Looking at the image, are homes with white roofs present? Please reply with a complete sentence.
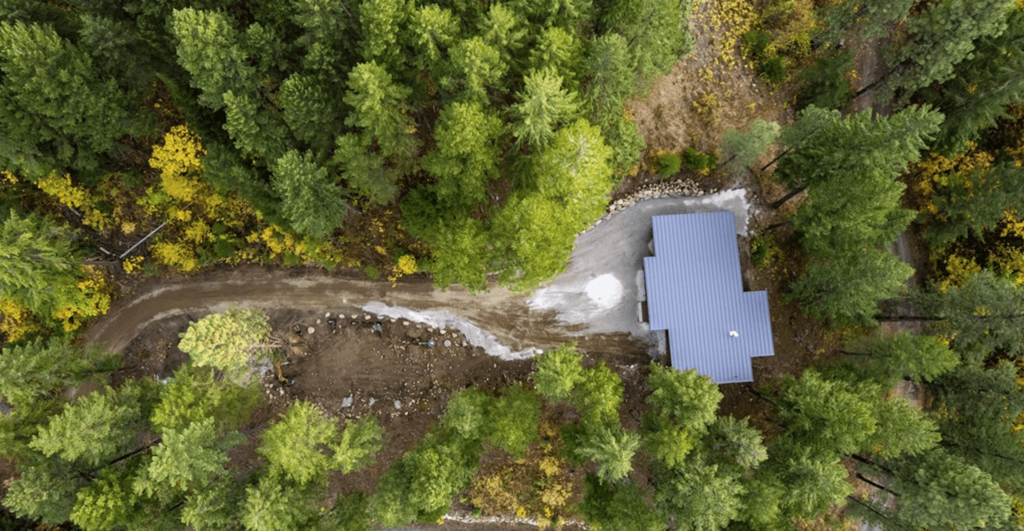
No, I can't see a single home with a white roof in this photo.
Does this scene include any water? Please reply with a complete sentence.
No, the picture contains no water.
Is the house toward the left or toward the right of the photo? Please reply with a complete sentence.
The house sits on the right side.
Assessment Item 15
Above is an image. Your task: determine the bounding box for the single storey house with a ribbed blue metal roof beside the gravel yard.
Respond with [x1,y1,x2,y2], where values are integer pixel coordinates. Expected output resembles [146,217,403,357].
[640,209,774,387]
